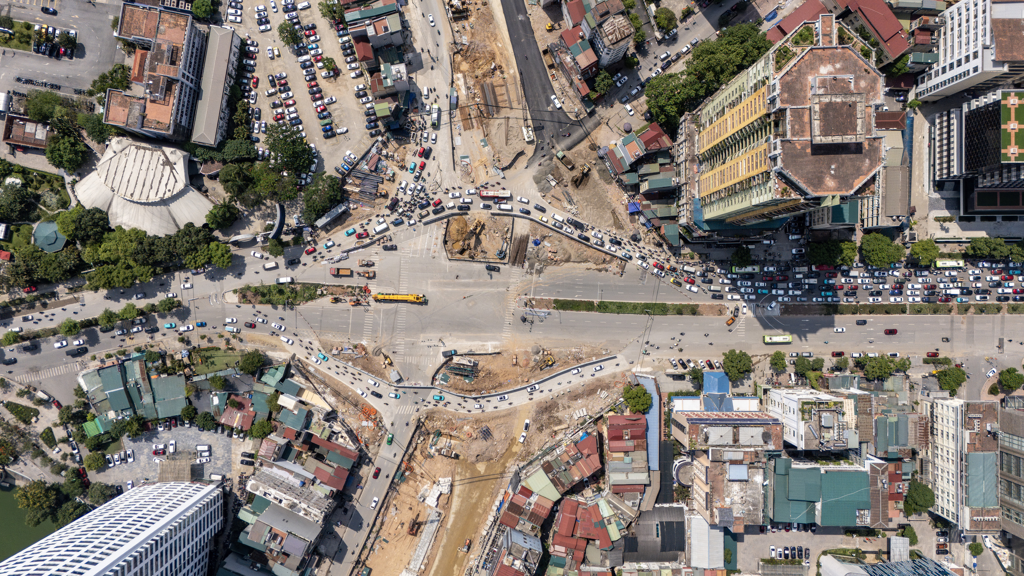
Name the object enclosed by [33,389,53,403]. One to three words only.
vehicle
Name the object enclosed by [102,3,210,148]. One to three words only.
building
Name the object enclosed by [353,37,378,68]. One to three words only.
house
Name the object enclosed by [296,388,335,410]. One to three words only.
house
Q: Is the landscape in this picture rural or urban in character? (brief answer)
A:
urban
